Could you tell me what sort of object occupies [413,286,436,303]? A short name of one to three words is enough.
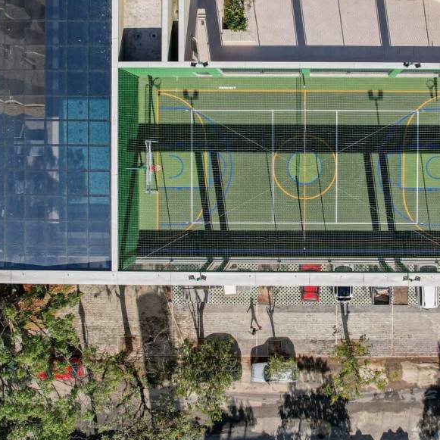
vehicle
